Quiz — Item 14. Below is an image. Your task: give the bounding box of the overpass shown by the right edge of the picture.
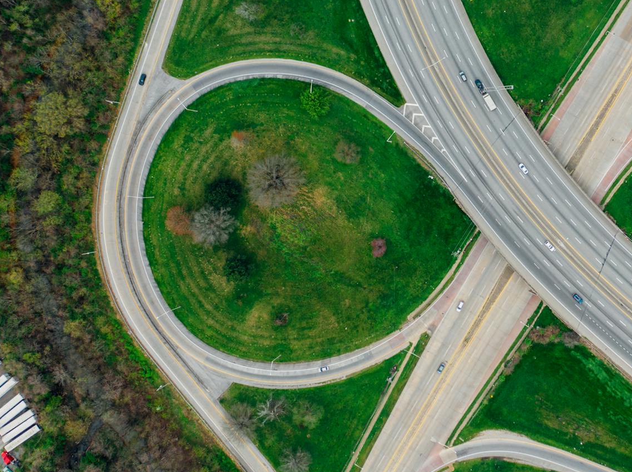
[453,106,621,328]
